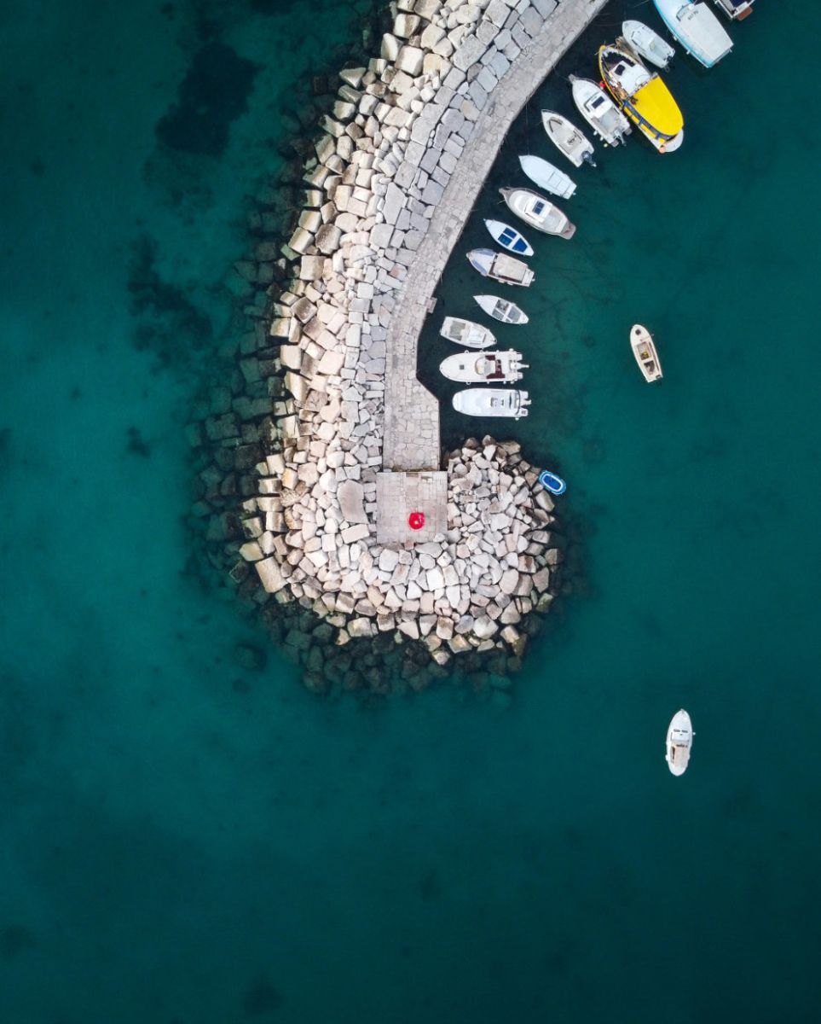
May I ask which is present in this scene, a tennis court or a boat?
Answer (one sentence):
Looking from above, you can make out a boat.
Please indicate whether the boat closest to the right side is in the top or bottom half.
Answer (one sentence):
You can find the boat closest to the right side in the top half.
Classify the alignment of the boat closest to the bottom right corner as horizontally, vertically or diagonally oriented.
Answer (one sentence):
What the image shows is the boat closest to the bottom right corner lying vertically.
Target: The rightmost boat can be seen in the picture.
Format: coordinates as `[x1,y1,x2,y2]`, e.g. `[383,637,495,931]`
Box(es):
[715,0,754,20]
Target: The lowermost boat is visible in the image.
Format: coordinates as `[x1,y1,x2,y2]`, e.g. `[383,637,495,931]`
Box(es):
[661,710,697,777]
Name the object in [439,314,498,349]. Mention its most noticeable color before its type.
white boat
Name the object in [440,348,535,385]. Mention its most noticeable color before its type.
white boat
